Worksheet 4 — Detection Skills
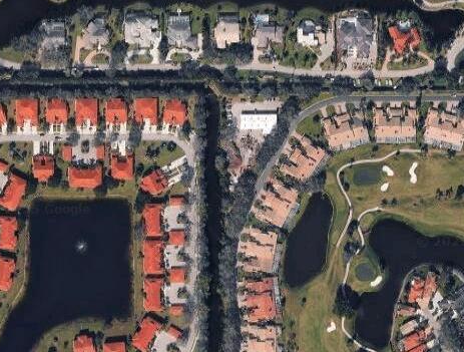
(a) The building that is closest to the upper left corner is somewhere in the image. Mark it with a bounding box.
[41,22,65,52]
